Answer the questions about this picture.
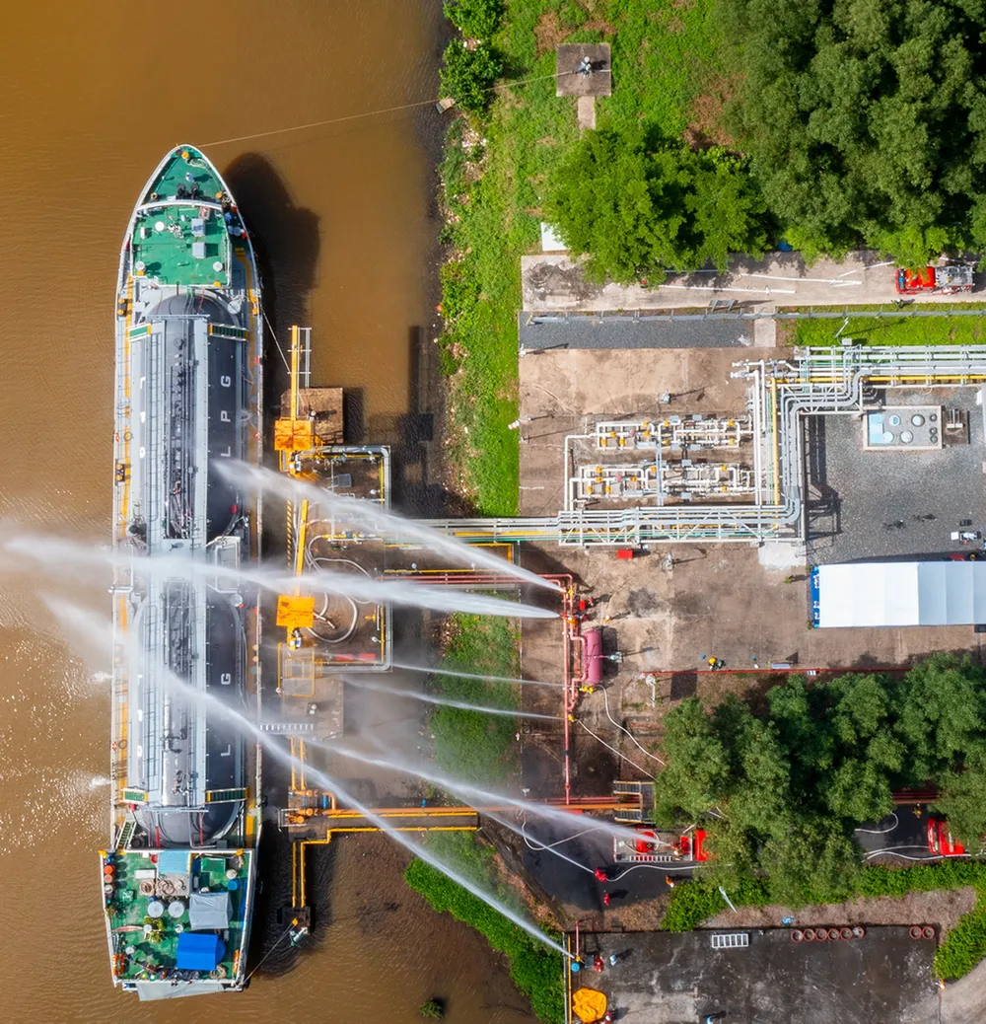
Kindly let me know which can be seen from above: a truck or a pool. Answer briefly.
truck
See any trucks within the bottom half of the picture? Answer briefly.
Yes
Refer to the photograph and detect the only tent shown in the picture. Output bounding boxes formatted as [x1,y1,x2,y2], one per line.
[811,562,986,626]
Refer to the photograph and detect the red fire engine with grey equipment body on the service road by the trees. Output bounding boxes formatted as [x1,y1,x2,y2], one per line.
[891,264,986,293]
